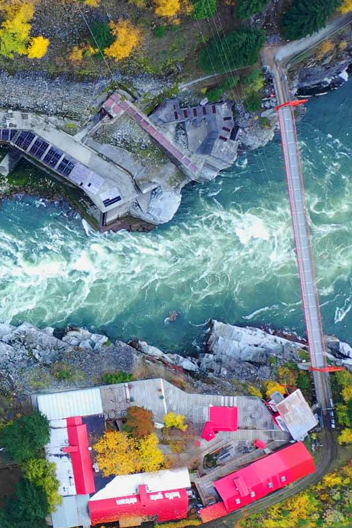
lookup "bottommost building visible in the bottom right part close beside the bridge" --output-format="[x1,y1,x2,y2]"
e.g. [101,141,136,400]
[199,440,316,525]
